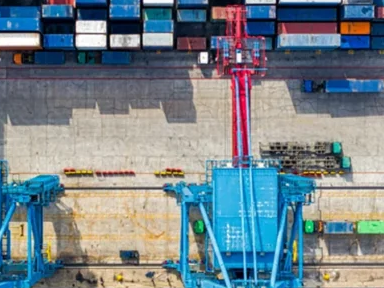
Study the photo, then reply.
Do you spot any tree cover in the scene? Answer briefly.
No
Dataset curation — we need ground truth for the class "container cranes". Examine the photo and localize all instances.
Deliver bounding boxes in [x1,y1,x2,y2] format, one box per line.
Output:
[0,158,67,288]
[163,7,313,288]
